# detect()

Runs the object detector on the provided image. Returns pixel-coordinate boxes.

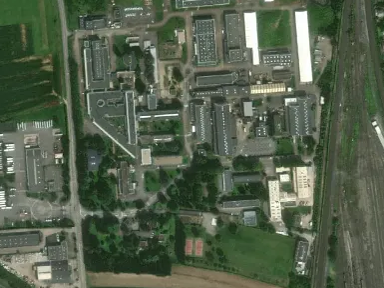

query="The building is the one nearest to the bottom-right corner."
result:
[296,242,309,272]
